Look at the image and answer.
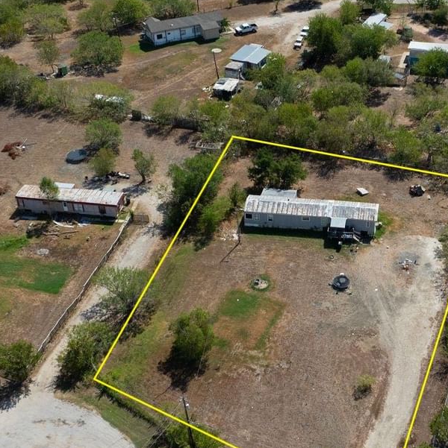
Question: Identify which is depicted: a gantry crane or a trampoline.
trampoline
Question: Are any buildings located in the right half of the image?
Yes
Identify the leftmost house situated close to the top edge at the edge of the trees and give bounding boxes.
[144,8,220,46]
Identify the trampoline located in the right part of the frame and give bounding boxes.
[332,274,350,290]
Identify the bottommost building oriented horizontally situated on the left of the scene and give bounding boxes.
[15,180,126,220]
